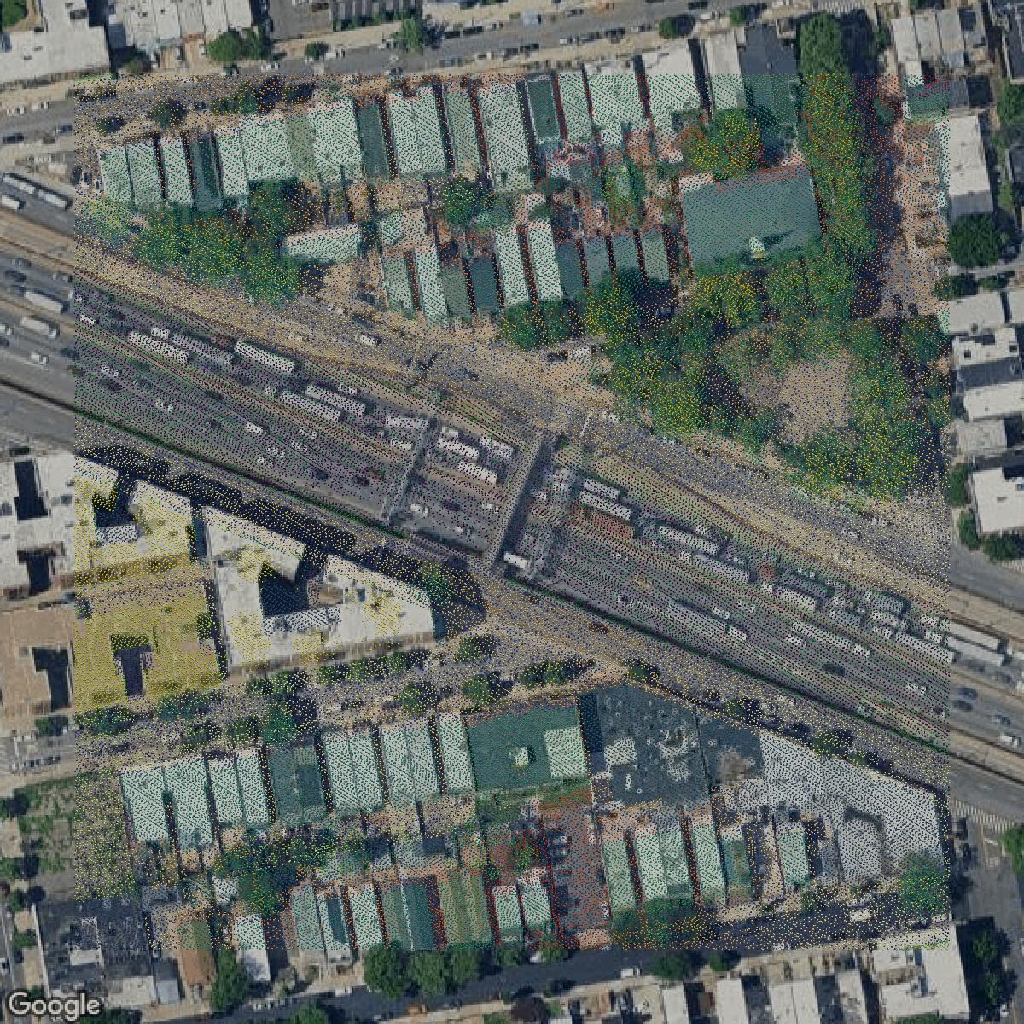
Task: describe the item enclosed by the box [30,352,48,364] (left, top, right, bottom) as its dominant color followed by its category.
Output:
white vehicle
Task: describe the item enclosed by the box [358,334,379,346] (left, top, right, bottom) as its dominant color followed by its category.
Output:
white vehicle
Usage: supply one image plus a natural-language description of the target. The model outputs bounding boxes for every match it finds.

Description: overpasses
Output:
[483,424,553,567]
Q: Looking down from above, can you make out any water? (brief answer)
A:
No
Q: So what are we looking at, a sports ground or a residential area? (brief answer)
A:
residential area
